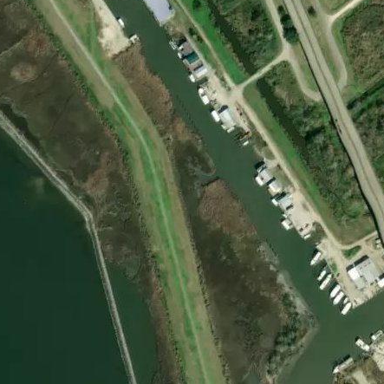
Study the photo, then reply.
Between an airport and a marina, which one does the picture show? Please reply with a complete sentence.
It's a marina.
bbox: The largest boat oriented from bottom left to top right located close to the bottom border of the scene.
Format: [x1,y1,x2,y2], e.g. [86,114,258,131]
[332,357,355,374]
